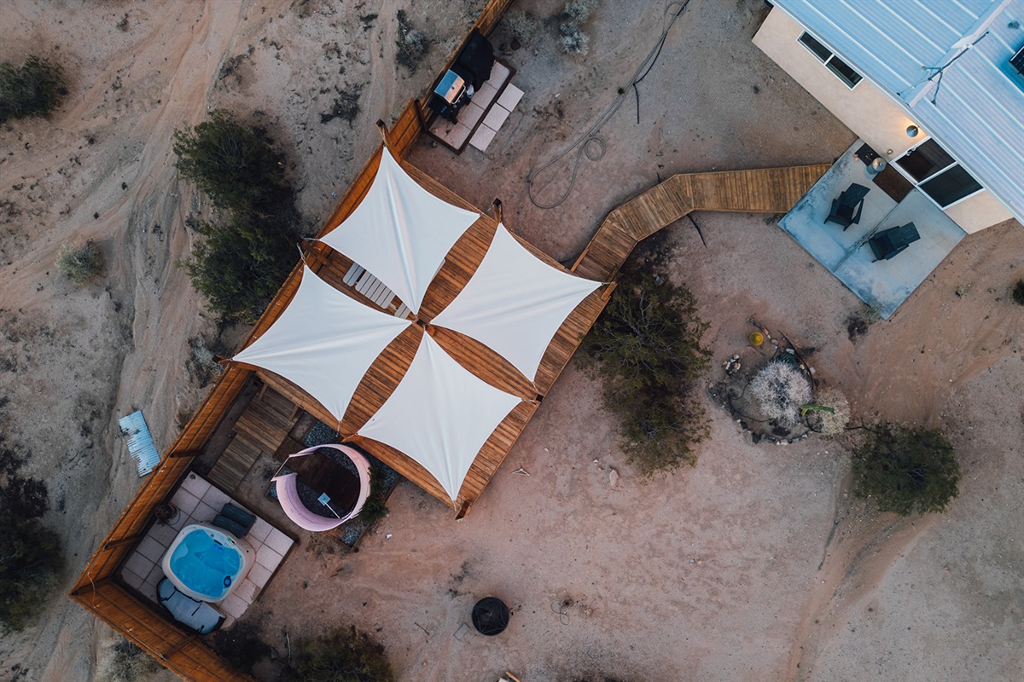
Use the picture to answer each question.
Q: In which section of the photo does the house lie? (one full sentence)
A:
The house is in the top right part of the image.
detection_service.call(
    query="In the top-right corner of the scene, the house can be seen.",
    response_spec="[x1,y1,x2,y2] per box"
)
[753,0,1024,233]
